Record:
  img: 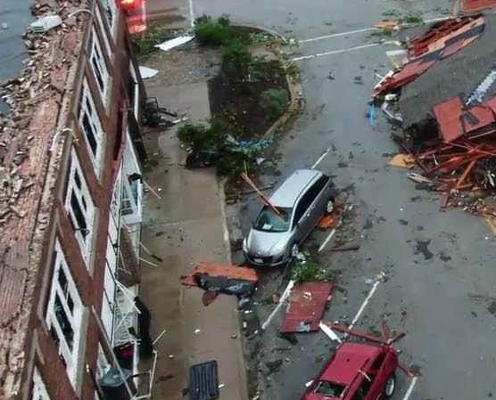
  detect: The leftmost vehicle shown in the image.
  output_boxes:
[242,172,333,267]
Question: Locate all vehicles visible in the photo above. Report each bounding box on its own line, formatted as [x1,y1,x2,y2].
[242,172,333,267]
[296,325,402,400]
